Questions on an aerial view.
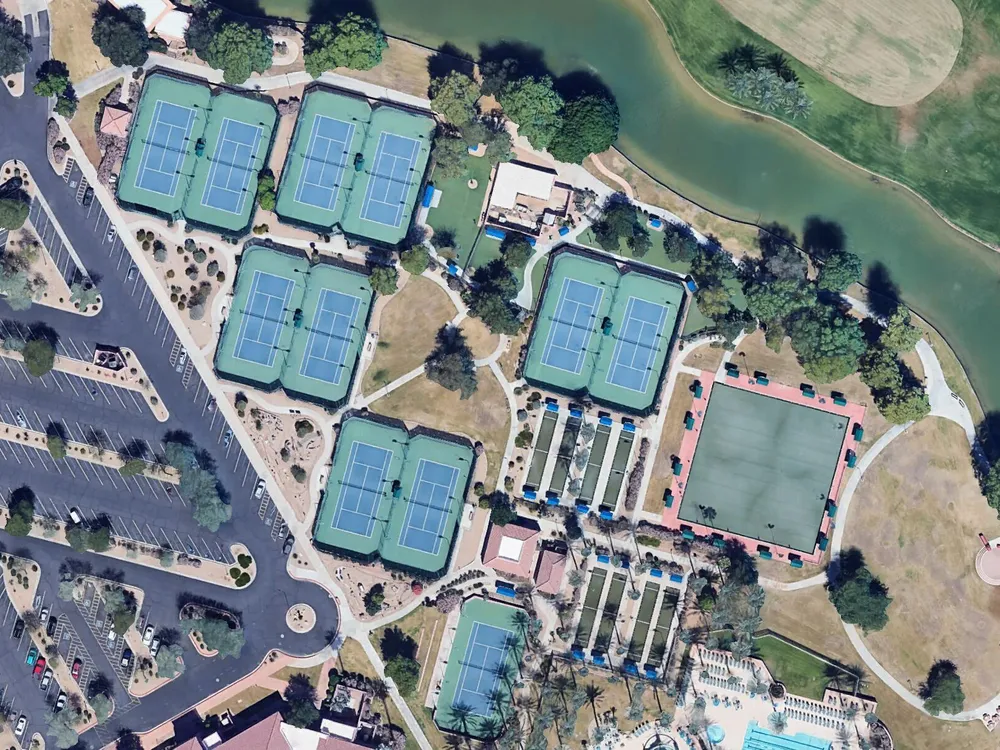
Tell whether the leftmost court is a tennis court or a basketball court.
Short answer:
tennis court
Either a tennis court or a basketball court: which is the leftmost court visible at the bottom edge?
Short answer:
tennis court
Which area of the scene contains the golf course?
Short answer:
top right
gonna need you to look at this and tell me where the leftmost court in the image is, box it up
[116,73,215,219]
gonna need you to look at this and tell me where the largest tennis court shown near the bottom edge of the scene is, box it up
[435,595,532,741]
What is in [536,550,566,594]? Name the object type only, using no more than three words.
building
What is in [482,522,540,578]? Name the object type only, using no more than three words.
building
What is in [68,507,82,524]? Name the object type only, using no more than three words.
vehicle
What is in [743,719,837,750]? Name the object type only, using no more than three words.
swimming pool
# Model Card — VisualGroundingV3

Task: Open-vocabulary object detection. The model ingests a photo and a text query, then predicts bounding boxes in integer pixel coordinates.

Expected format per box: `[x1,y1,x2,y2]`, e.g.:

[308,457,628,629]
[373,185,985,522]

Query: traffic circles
[285,604,316,634]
